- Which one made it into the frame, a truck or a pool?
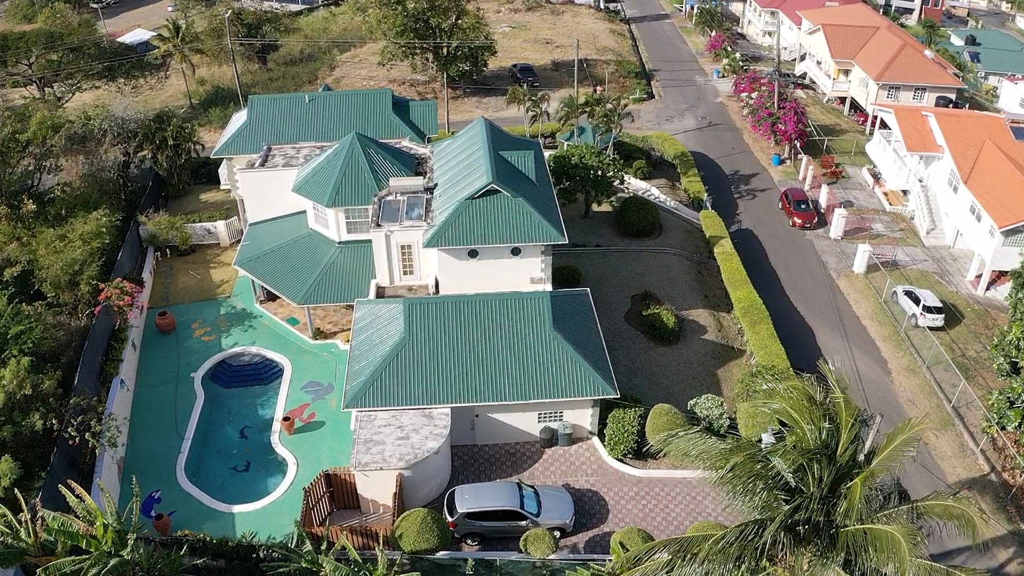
pool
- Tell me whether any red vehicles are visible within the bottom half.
No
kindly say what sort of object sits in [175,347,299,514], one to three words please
swimming pool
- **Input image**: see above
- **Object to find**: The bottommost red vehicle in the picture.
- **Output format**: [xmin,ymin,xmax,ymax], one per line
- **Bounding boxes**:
[778,190,821,230]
